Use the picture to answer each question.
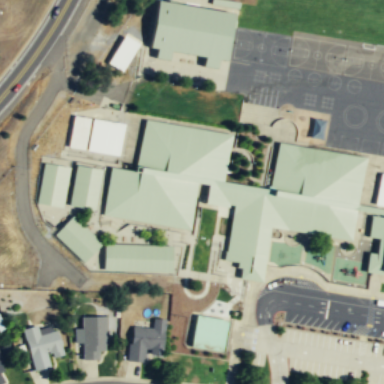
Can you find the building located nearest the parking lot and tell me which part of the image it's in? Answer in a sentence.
The building located nearest the parking lot is in the bottom part of the image.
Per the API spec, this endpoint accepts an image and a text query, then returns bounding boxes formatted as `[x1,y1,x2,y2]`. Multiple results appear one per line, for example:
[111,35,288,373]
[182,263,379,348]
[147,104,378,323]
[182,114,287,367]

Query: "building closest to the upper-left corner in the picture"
[110,33,142,72]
